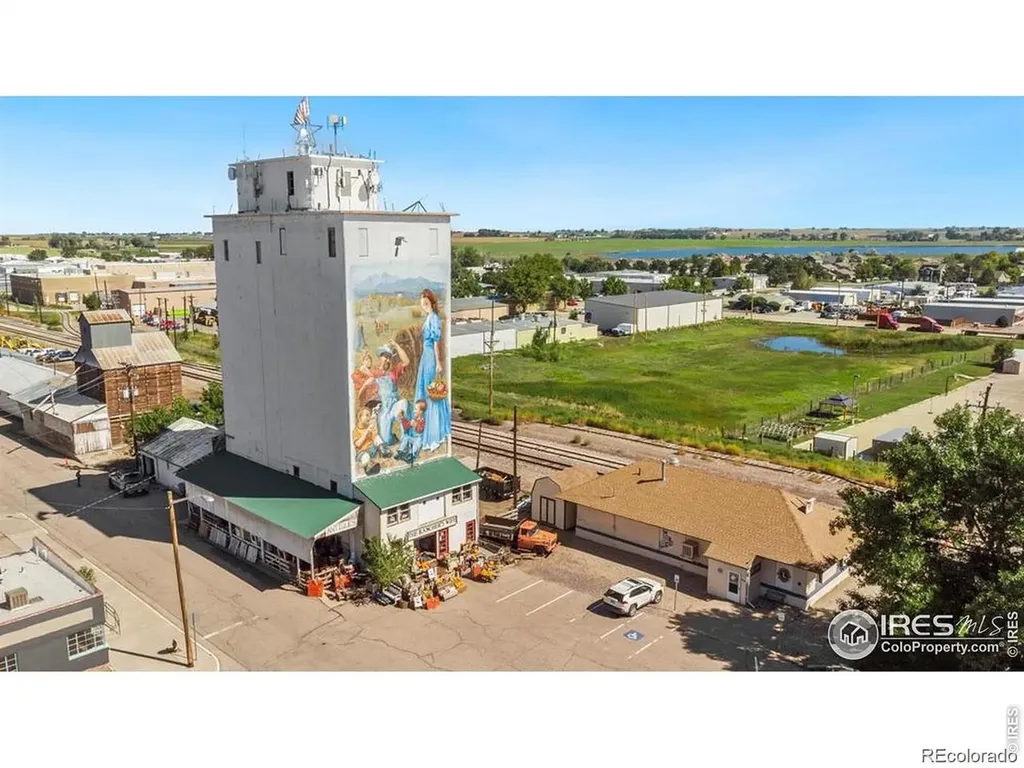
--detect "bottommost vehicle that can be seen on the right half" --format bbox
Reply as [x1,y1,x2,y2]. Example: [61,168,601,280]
[601,573,662,615]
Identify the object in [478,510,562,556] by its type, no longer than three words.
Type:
truck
